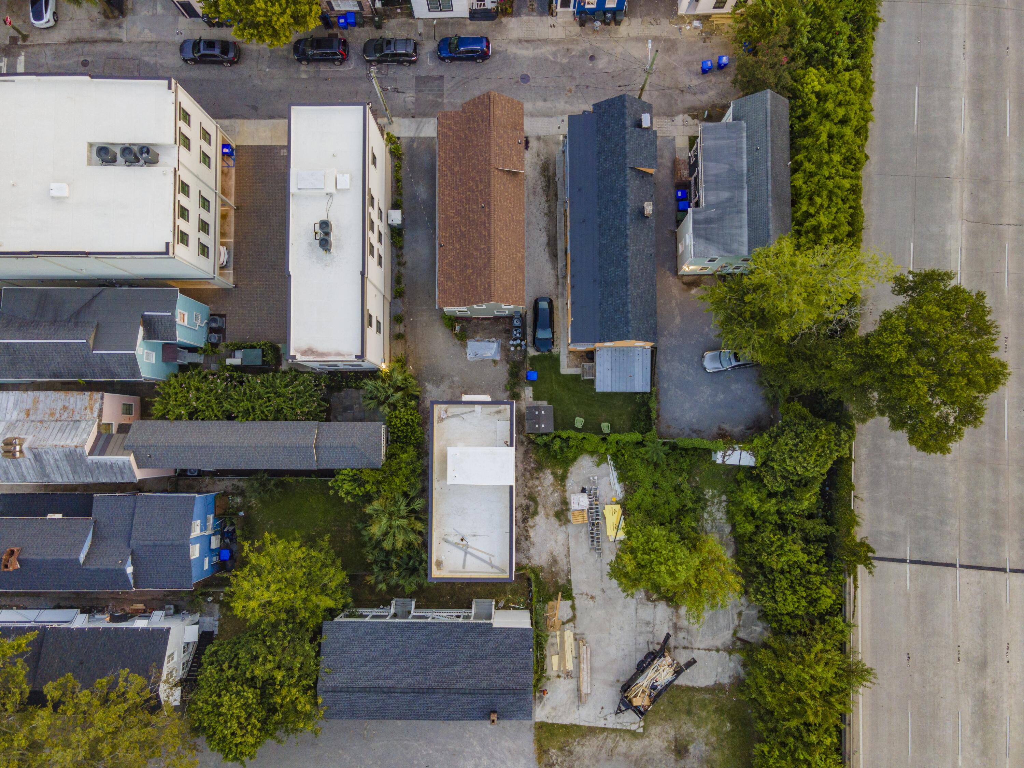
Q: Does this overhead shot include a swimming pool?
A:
No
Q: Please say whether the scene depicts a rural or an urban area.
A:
urban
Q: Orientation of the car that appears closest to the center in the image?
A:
vertically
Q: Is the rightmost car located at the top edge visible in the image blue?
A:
Yes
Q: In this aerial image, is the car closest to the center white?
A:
No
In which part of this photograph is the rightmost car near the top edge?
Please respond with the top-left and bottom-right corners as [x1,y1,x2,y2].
[437,31,491,62]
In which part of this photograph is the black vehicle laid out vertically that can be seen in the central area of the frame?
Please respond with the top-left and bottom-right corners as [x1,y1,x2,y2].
[531,296,557,353]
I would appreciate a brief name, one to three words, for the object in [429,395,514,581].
house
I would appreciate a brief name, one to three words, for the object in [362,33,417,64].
car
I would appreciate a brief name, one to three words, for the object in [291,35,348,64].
car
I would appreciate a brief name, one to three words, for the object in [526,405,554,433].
shed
